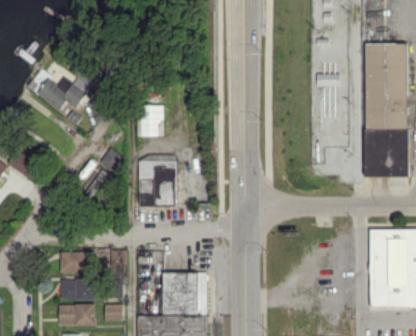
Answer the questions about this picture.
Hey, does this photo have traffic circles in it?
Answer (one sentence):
No, I can't see a single traffic circle in this photo.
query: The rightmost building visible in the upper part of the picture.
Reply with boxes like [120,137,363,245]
[367,43,410,176]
